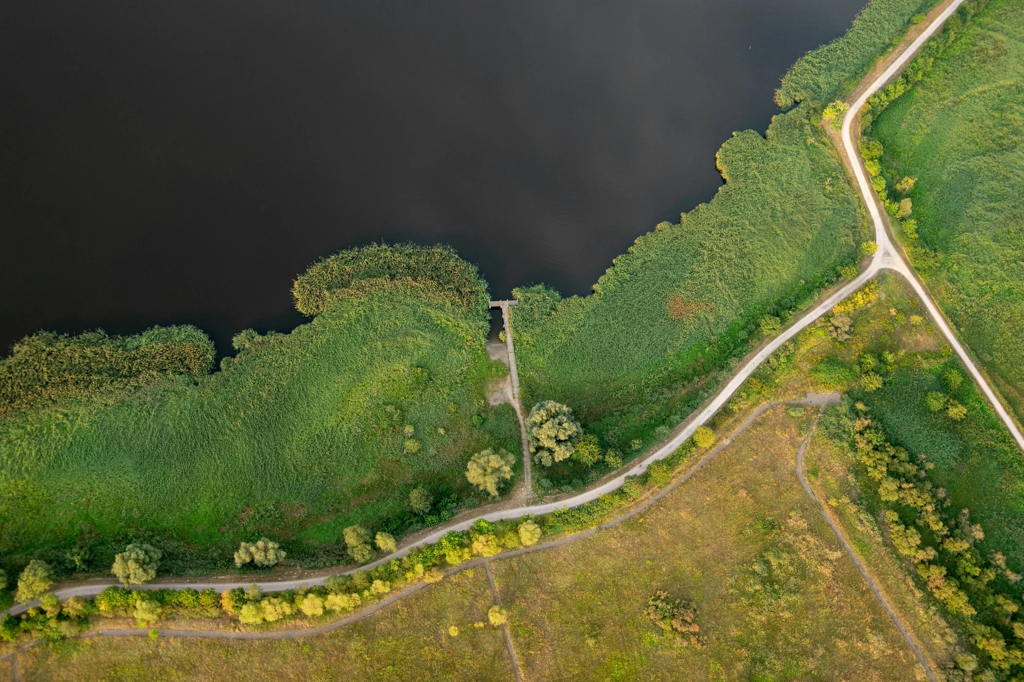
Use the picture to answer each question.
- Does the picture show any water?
Yes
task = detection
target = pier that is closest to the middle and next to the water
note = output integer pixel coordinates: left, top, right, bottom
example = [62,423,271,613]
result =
[489,299,519,399]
